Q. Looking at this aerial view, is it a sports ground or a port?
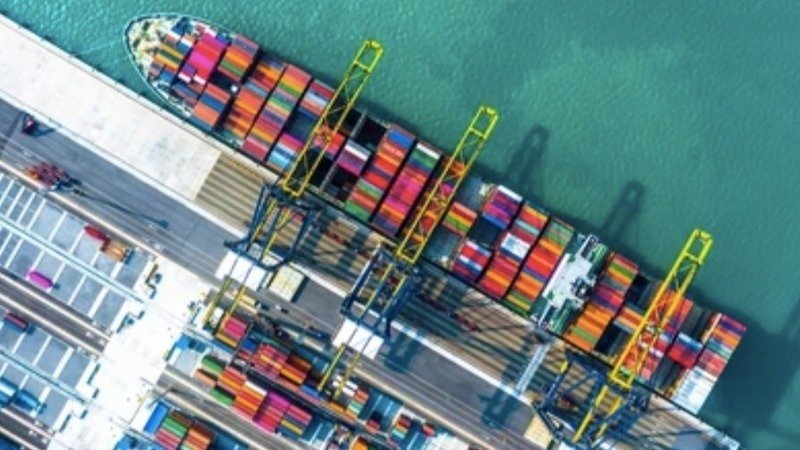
port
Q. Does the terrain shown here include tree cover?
No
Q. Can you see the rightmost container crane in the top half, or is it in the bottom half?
bottom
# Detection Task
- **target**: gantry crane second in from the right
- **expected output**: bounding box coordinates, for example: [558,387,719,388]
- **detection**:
[319,106,499,397]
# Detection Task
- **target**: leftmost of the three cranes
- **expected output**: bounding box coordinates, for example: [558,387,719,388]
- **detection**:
[202,38,383,330]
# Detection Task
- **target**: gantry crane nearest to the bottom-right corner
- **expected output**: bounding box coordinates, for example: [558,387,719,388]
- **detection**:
[533,231,716,450]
